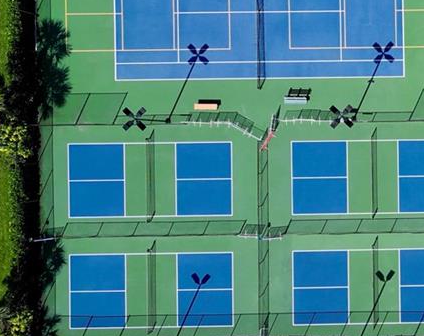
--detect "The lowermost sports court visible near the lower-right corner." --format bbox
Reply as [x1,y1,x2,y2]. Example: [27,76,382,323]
[292,248,424,325]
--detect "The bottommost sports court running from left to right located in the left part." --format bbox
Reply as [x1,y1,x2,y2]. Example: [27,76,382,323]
[69,252,234,329]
